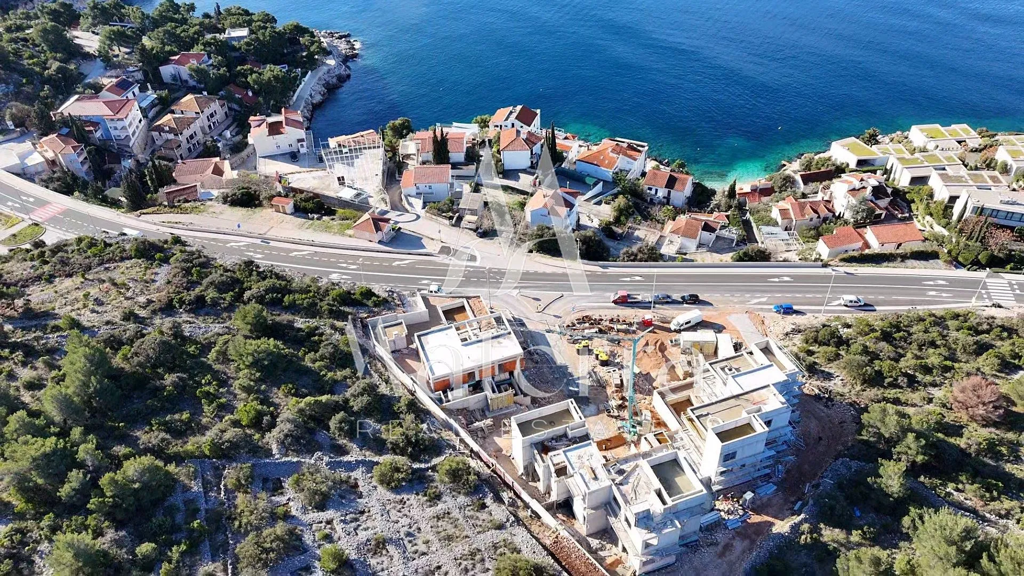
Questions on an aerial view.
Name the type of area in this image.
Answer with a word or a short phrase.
residential area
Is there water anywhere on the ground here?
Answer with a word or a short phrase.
Yes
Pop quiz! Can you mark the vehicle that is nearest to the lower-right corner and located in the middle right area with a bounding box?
[839,294,867,307]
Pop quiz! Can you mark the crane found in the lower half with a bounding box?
[520,325,663,440]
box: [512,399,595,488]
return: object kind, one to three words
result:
building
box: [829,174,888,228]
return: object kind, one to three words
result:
house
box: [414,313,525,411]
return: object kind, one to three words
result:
building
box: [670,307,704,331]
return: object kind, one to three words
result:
vehicle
